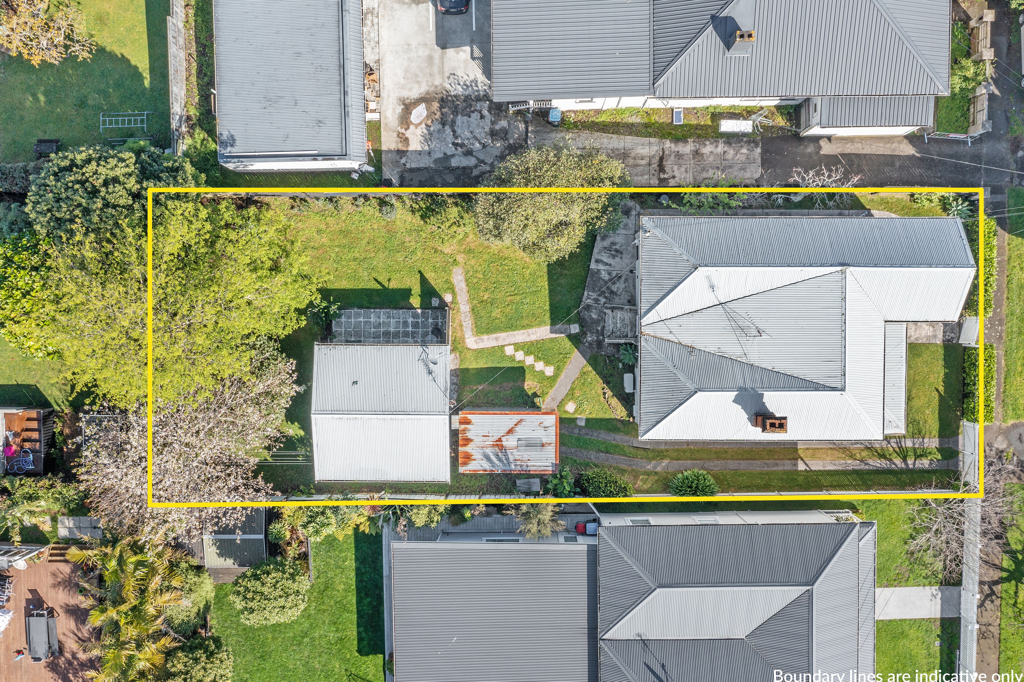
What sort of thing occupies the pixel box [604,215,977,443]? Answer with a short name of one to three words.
house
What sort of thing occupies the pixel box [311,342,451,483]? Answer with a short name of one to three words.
shed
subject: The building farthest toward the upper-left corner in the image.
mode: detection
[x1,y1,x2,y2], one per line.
[210,0,373,172]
